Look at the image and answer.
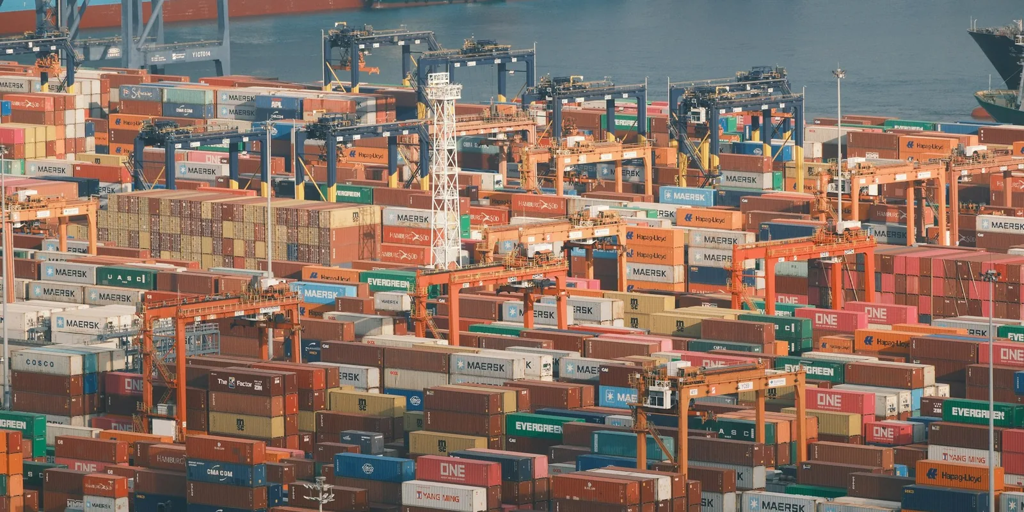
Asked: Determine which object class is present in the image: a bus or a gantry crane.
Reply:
gantry crane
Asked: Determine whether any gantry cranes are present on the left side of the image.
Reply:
Yes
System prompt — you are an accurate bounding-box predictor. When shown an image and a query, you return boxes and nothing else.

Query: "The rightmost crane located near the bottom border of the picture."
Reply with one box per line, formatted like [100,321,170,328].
[618,351,807,493]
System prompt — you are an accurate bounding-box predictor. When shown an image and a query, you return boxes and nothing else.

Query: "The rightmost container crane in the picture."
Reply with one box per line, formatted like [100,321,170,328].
[901,142,1024,254]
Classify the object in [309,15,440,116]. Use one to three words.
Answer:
container crane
